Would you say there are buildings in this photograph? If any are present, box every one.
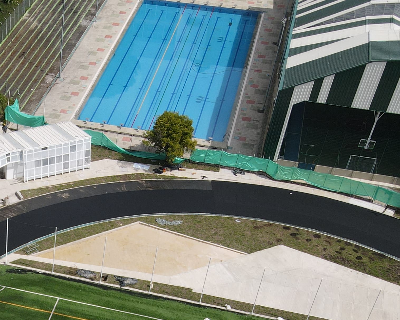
[0,122,93,183]
[260,0,400,187]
